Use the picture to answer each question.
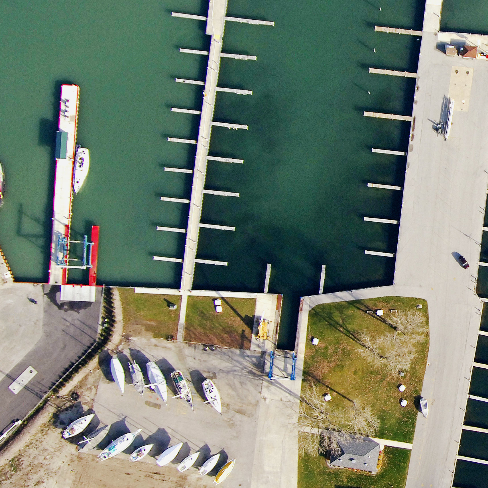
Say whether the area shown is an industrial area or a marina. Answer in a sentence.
What you see here is a marina.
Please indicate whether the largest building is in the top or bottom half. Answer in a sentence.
It is in the bottom half that the largest building appears.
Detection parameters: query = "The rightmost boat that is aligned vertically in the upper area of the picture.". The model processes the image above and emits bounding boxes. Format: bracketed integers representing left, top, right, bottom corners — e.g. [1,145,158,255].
[74,148,90,194]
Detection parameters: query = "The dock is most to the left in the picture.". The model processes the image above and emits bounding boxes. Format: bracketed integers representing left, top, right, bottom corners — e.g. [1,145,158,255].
[48,85,81,284]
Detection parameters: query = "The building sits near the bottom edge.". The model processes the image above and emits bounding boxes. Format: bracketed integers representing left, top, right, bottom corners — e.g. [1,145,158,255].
[330,438,380,473]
